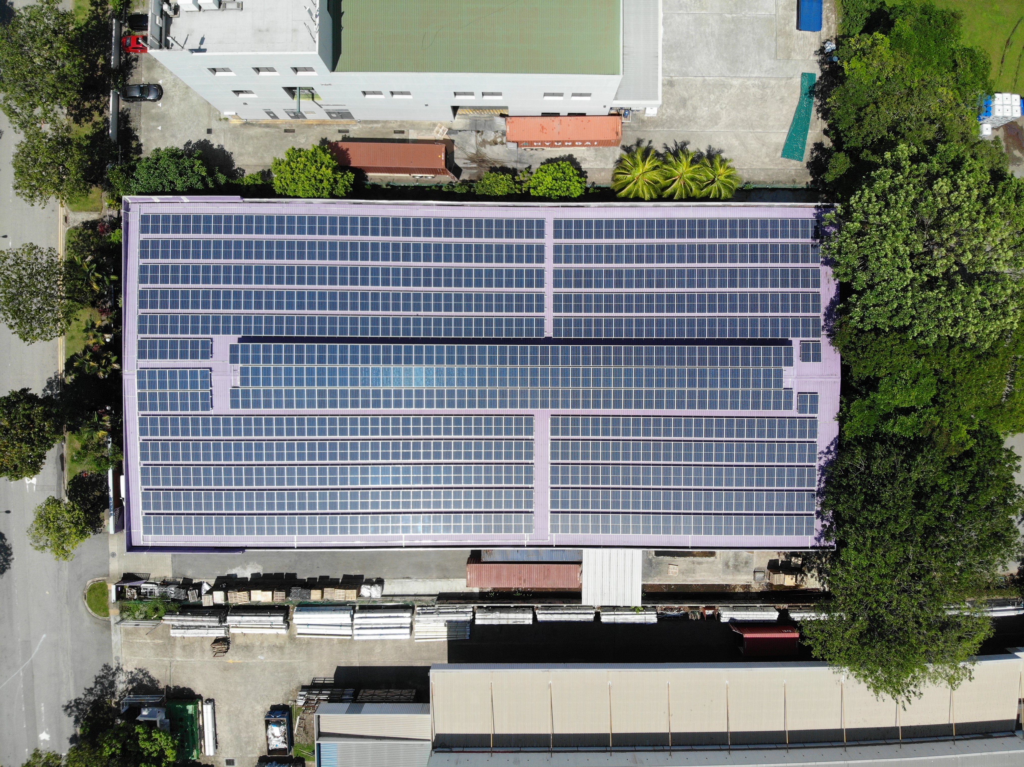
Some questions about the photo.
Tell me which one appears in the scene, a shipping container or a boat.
shipping container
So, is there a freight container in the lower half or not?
Yes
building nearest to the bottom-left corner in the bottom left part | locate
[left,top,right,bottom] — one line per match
[136,699,173,733]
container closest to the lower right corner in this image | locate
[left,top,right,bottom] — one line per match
[724,618,800,656]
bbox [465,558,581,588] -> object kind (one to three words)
shipping container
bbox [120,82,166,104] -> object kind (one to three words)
car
